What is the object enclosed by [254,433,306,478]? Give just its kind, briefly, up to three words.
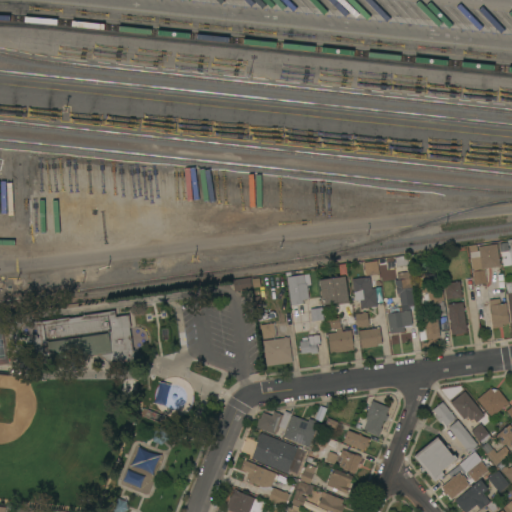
building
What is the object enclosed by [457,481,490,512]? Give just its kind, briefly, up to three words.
house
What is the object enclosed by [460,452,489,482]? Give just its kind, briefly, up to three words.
house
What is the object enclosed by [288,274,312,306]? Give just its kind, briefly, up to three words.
building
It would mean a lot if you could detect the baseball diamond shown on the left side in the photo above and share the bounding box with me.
[0,376,38,444]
